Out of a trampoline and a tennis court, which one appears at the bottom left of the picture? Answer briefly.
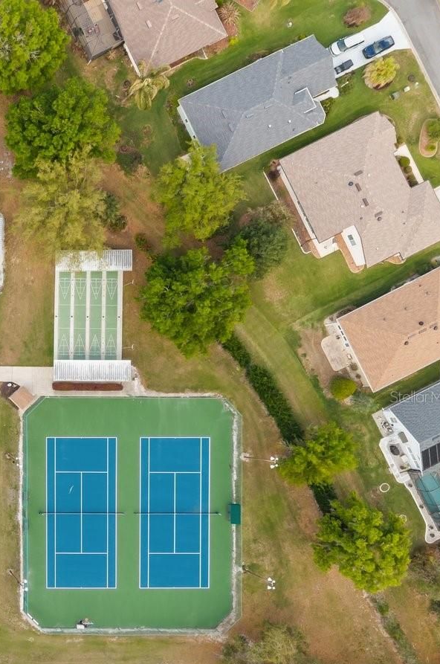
tennis court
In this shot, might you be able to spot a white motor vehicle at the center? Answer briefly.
No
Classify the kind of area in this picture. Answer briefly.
residential area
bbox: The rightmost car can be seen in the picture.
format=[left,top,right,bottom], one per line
[361,36,395,59]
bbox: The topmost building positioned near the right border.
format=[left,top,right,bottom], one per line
[273,112,440,269]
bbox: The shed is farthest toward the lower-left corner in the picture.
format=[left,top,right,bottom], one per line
[7,386,36,410]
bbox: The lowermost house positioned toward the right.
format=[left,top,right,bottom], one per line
[372,378,440,471]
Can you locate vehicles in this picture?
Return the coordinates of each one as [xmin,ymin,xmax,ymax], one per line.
[329,31,366,57]
[361,36,395,59]
[336,59,353,76]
